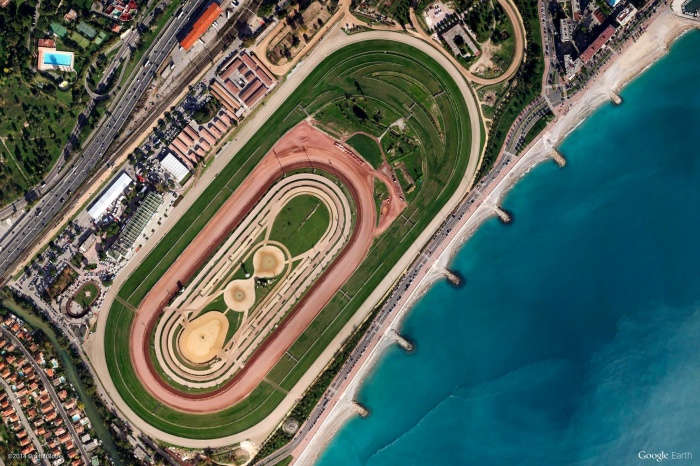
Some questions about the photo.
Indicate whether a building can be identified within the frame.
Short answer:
Yes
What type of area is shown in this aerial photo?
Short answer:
sports ground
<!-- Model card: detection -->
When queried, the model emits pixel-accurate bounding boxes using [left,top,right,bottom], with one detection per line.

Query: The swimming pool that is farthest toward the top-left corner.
[38,46,75,70]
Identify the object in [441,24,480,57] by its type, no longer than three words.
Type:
building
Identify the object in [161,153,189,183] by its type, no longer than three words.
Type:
building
